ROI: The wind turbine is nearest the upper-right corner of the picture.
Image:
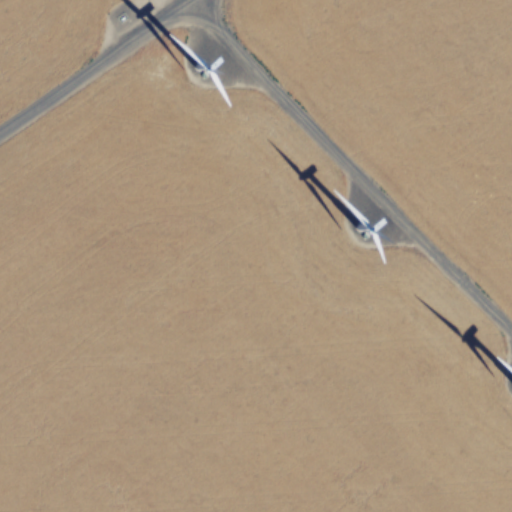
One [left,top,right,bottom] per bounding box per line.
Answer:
[340,192,390,264]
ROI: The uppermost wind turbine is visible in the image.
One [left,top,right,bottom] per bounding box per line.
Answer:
[177,30,228,103]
